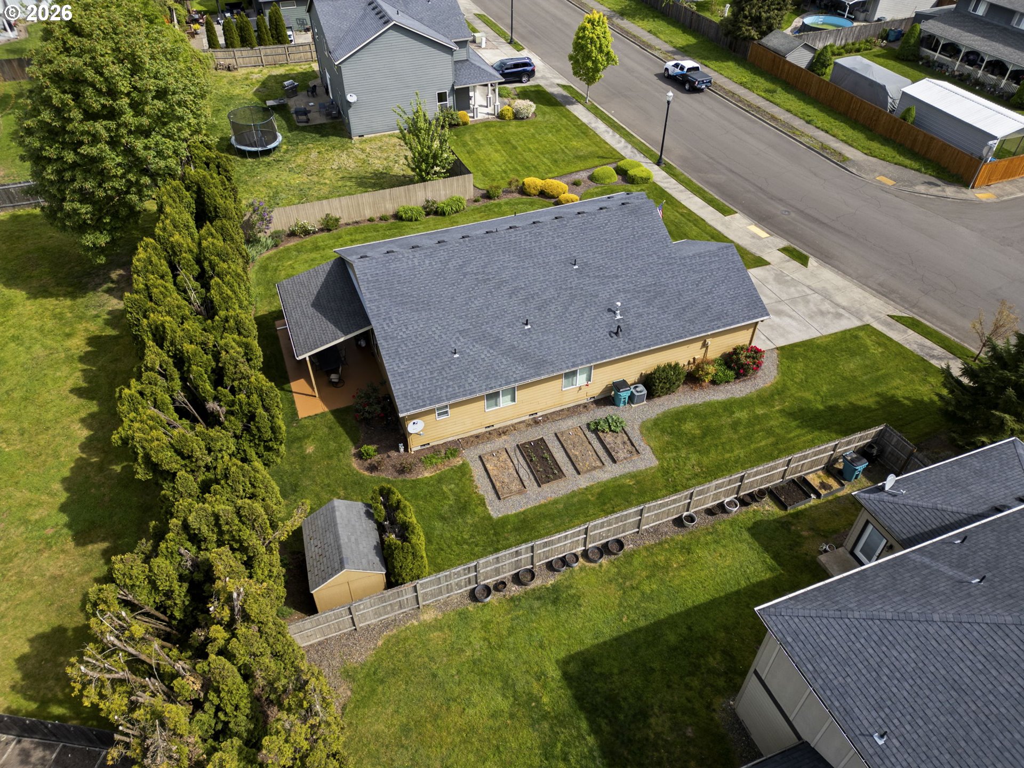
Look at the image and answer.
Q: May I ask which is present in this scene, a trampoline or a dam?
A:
trampoline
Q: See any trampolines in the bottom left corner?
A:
No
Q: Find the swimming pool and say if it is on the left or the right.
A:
right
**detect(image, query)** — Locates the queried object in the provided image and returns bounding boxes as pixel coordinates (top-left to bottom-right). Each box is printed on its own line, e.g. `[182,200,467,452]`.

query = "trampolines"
[227,107,283,160]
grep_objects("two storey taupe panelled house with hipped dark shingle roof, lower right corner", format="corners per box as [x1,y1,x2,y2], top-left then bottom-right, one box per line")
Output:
[735,435,1024,768]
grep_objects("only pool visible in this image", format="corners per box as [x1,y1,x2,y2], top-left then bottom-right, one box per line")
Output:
[800,14,856,34]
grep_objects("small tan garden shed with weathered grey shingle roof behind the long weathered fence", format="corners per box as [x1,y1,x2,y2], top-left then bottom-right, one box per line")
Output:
[297,506,386,617]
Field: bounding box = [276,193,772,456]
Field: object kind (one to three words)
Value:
house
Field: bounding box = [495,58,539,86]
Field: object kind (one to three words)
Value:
car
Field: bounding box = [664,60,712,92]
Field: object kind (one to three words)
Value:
truck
